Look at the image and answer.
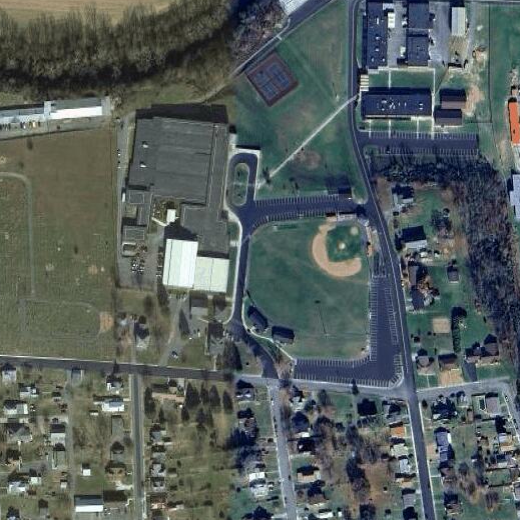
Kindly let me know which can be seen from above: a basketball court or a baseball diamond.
baseball diamond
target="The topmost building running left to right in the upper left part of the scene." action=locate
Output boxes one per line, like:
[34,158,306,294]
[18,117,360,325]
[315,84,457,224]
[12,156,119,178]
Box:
[0,100,109,127]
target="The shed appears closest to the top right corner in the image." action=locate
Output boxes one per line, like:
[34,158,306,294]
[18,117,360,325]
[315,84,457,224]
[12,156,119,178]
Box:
[452,6,465,35]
